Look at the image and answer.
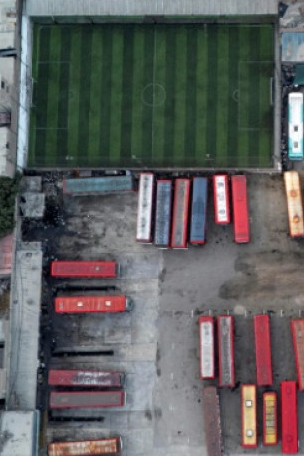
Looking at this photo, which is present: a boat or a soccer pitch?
soccer pitch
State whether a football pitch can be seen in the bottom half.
No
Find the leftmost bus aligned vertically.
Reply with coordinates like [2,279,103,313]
[135,172,156,247]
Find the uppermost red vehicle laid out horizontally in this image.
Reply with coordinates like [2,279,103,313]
[51,260,121,277]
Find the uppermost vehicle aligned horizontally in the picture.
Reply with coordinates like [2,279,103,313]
[61,176,136,196]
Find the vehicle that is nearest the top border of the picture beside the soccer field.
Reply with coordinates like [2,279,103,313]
[287,92,304,166]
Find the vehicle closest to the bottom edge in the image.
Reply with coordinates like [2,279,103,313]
[48,437,125,456]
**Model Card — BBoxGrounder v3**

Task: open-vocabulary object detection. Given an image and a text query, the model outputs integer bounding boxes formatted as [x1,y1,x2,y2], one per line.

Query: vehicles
[190,177,209,247]
[171,179,191,252]
[135,172,156,247]
[254,314,272,387]
[50,389,128,407]
[48,370,126,386]
[281,380,298,455]
[51,260,121,277]
[241,384,258,449]
[218,315,235,387]
[214,175,231,228]
[232,175,251,247]
[154,179,173,251]
[199,315,216,380]
[284,171,304,241]
[48,437,125,456]
[262,391,278,446]
[61,176,136,196]
[287,92,304,166]
[55,296,131,312]
[291,319,304,392]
